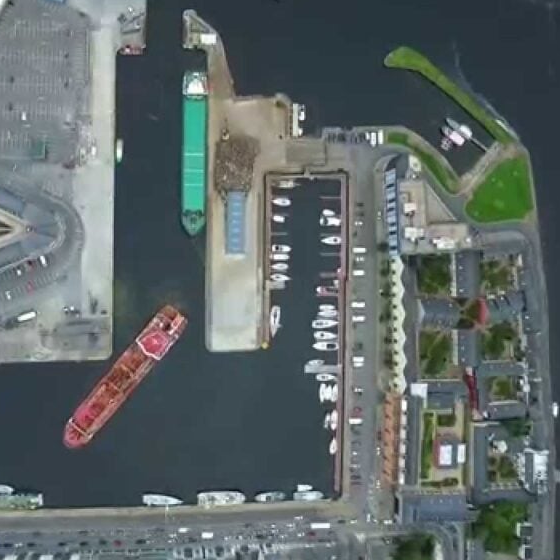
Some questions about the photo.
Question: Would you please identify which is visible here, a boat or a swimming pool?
boat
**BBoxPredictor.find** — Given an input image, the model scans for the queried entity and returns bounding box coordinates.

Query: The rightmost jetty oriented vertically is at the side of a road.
[317,180,346,496]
